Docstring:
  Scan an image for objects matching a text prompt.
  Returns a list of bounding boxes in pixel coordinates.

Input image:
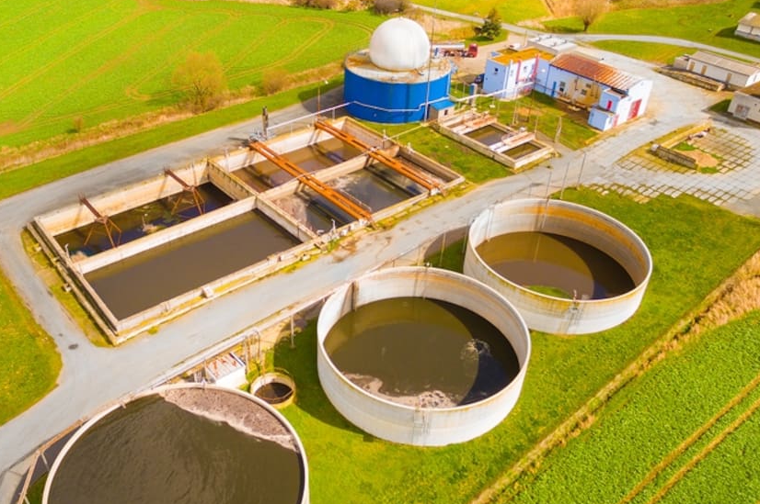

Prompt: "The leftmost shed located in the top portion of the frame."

[430,100,453,122]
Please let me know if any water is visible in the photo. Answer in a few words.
Yes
